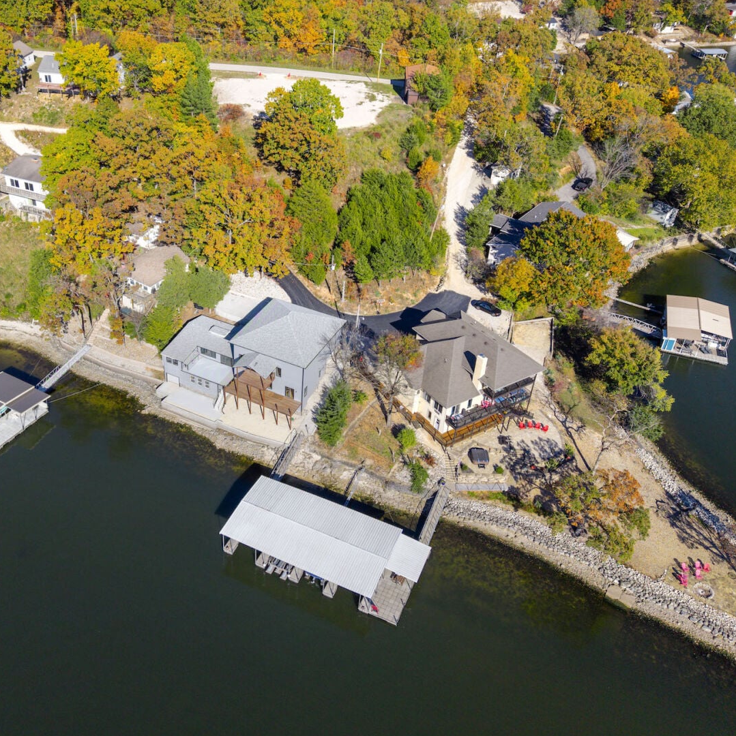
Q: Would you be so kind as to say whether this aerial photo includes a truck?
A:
No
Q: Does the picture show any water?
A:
Yes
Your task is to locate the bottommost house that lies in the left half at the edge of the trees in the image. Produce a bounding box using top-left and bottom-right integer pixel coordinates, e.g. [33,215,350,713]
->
[159,300,346,431]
